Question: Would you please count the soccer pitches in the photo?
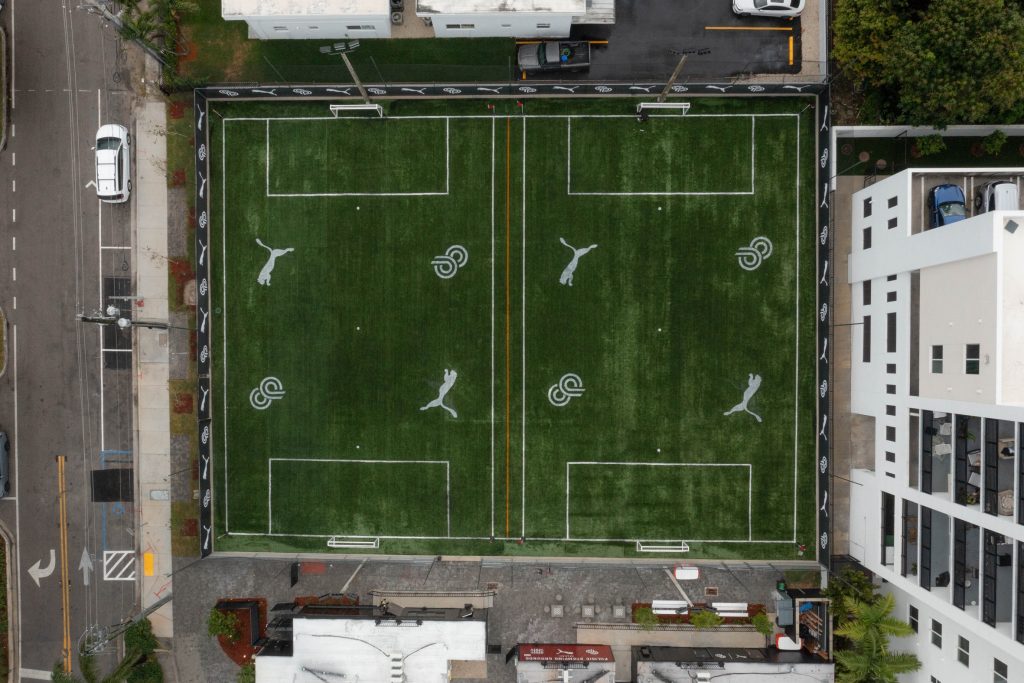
2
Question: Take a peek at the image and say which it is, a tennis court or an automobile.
automobile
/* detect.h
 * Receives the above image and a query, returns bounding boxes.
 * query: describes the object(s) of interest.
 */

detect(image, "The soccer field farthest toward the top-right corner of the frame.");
[504,96,817,556]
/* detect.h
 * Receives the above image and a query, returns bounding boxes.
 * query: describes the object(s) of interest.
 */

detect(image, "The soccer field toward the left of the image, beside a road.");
[209,98,510,554]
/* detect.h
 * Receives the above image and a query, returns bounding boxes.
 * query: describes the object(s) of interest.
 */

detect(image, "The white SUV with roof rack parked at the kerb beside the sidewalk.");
[92,124,133,202]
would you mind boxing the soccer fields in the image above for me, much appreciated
[504,96,817,556]
[209,98,510,554]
